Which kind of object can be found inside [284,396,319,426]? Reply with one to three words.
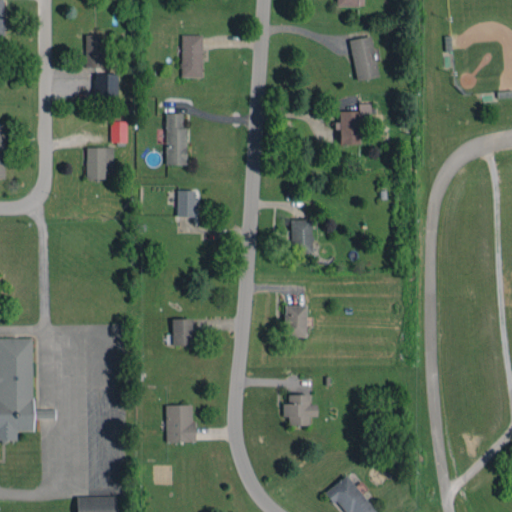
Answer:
house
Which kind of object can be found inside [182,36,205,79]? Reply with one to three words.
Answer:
house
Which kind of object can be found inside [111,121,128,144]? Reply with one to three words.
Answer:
shed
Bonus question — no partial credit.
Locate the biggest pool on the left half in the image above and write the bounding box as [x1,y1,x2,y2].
[146,150,162,168]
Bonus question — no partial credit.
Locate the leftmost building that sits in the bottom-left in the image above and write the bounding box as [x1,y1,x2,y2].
[0,339,58,444]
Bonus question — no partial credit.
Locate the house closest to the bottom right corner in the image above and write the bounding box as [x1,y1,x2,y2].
[328,480,380,512]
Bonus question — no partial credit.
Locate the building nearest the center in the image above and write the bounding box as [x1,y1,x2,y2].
[291,220,314,255]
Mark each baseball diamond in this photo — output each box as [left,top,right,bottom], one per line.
[452,0,512,94]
